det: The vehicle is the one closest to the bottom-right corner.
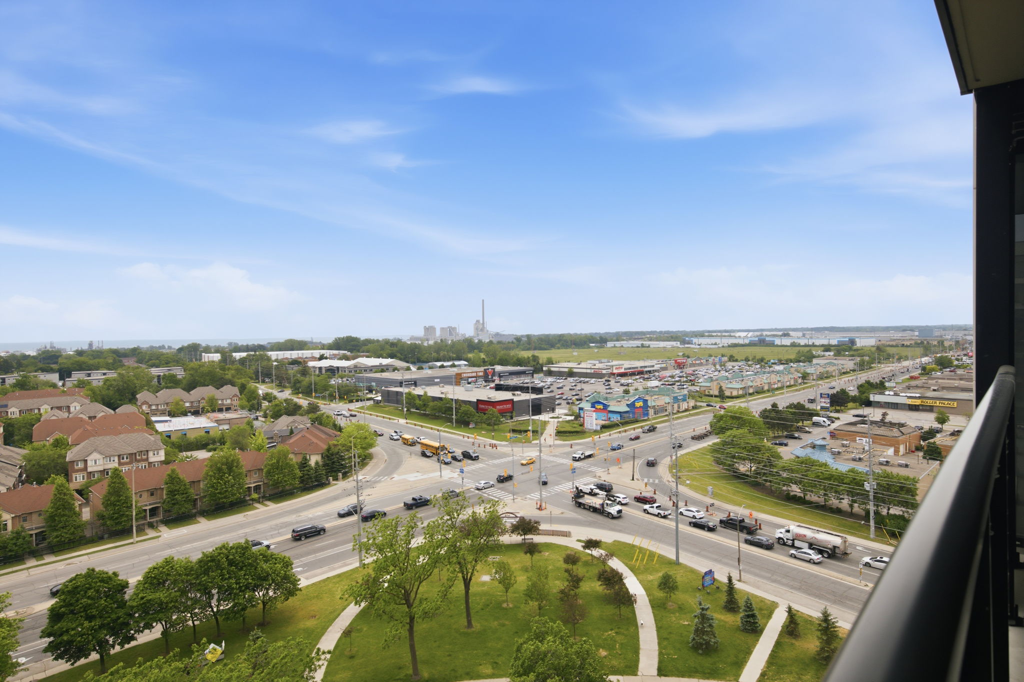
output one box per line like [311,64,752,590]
[858,555,889,568]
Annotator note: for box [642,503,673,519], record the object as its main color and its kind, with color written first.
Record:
white vehicle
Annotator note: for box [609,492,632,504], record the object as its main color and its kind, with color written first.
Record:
white vehicle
